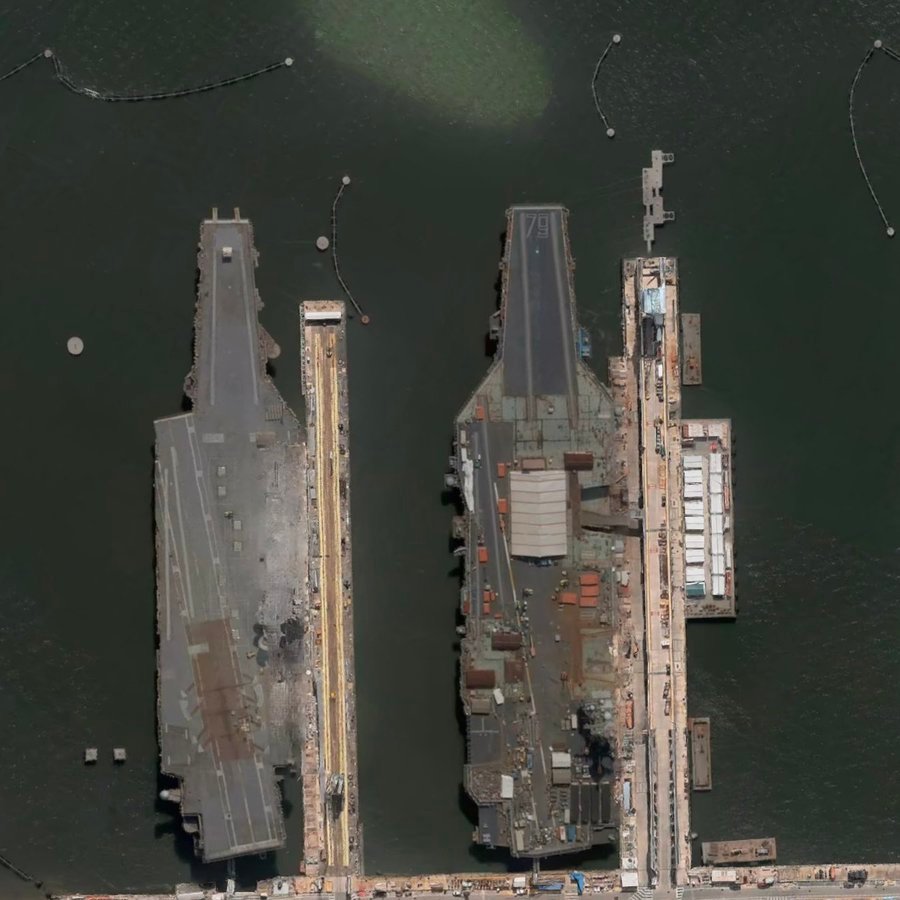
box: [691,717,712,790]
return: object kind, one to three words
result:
ship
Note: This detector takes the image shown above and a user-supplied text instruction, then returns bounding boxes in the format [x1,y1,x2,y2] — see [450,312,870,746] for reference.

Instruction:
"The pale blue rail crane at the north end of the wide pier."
[642,275,666,316]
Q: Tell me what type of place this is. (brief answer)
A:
port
